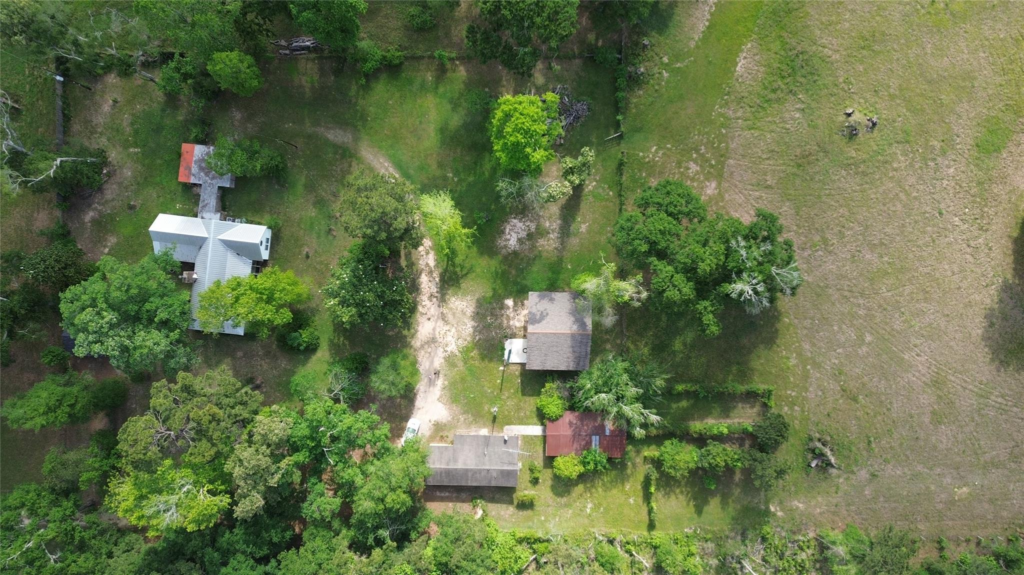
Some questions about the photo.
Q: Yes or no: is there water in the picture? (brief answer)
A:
No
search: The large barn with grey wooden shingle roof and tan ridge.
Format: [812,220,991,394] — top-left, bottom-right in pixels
[526,292,591,370]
